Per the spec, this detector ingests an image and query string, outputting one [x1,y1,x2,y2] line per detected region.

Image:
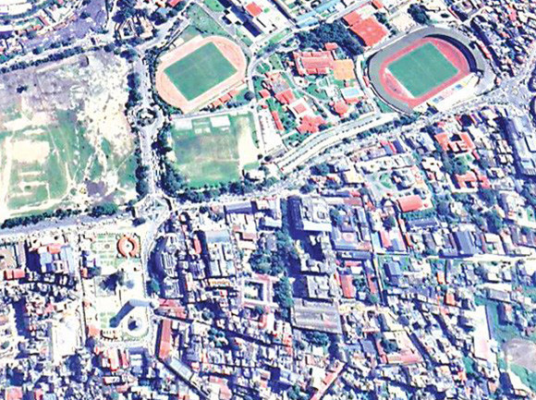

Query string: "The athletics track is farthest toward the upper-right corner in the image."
[376,35,469,104]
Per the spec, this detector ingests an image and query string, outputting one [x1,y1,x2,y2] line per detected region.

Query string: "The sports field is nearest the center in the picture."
[171,112,260,188]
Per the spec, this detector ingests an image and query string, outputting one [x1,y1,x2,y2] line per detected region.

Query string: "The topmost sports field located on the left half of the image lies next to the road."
[165,40,237,100]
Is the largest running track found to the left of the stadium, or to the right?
on the left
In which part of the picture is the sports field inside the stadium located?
top right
